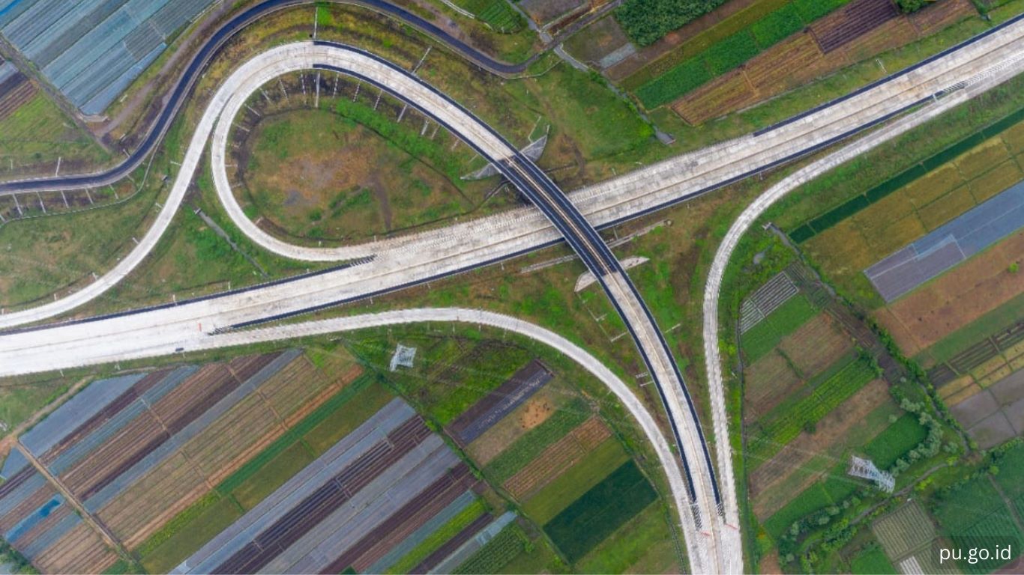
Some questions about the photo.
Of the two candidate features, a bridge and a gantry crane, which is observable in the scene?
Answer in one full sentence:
The one in the frame is a bridge.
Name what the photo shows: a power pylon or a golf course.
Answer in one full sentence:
It is a power pylon that can be seen here.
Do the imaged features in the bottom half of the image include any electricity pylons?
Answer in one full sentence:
Yes, looking in the bottom half of the image, one can make out an electricity pylon.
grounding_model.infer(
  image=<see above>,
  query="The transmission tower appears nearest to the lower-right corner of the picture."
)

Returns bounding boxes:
[847,454,898,493]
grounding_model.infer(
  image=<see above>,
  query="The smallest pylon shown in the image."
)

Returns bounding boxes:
[392,343,418,371]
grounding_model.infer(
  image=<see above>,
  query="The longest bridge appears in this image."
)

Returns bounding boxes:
[460,135,649,293]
